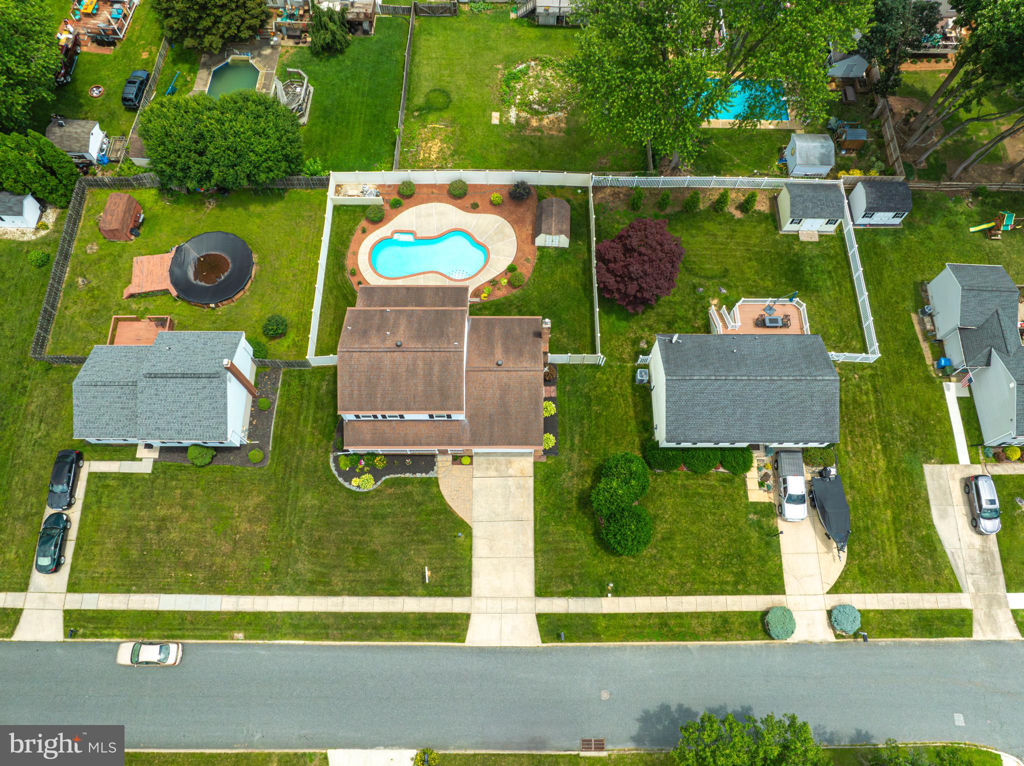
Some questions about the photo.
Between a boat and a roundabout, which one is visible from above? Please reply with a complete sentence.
It is a boat that can be seen here.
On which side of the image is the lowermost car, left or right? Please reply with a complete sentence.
The lowermost car appears in the left half of the scene.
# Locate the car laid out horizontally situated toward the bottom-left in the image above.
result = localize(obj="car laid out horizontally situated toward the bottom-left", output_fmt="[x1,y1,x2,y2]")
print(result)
[118,638,187,671]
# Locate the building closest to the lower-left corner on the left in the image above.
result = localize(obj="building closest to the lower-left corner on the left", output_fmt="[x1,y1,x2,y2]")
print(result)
[72,331,256,453]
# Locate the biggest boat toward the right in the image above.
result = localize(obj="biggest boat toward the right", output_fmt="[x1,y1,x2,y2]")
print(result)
[817,468,857,544]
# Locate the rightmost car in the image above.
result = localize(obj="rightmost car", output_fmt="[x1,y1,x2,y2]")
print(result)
[963,476,1007,532]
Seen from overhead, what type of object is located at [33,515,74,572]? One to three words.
car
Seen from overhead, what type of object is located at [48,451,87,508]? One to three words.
car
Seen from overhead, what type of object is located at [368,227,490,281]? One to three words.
swimming pool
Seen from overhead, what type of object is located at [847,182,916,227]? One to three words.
shed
